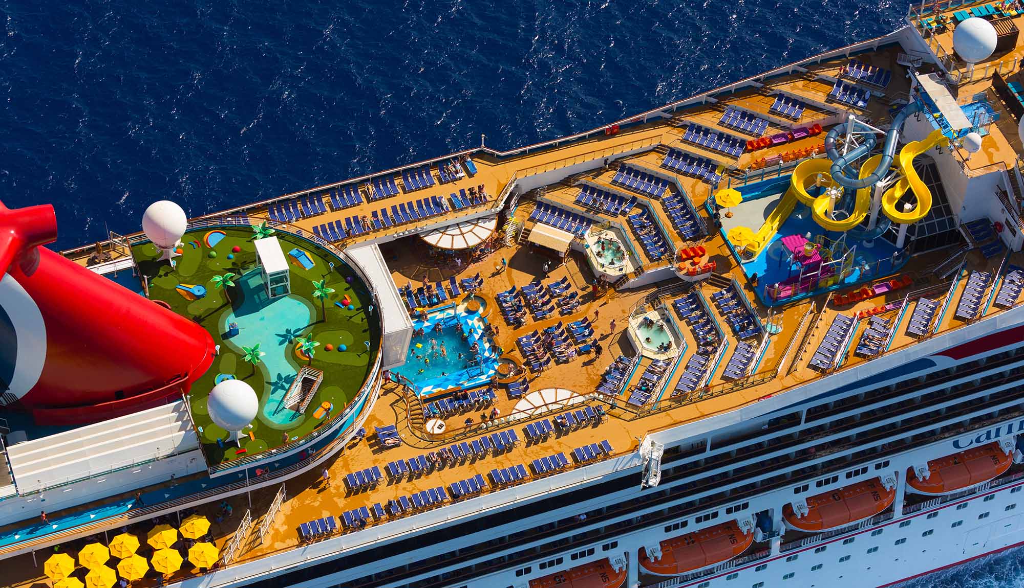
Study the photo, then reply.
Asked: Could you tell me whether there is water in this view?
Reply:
Yes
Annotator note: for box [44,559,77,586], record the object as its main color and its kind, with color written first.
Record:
yellow umbrella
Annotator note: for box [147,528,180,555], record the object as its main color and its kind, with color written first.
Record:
yellow umbrella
